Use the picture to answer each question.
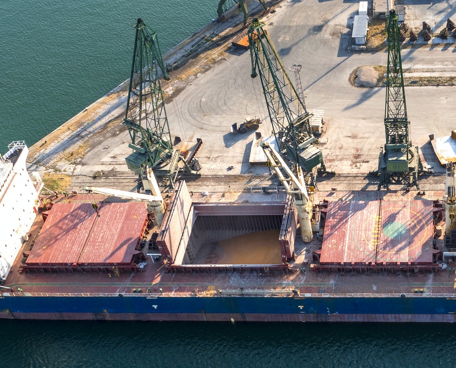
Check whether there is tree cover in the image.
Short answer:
No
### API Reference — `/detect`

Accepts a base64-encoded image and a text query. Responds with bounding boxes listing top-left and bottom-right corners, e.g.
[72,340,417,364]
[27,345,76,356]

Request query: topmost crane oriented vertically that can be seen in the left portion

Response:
[122,12,197,193]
